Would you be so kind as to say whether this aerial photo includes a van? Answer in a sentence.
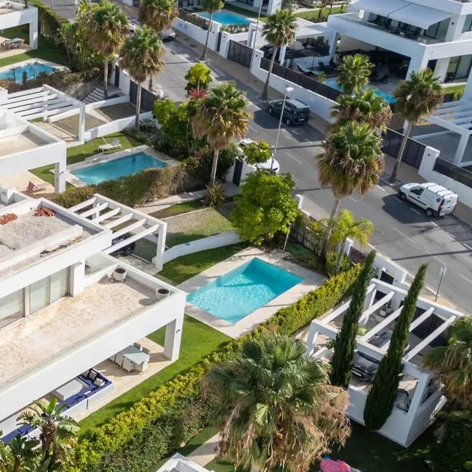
Yes, the frame does contain a van.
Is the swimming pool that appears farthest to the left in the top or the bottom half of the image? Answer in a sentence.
The swimming pool that appears farthest to the left sits in the top half of the picture.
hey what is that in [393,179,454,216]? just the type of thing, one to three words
van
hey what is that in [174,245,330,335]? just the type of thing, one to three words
swimming pool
